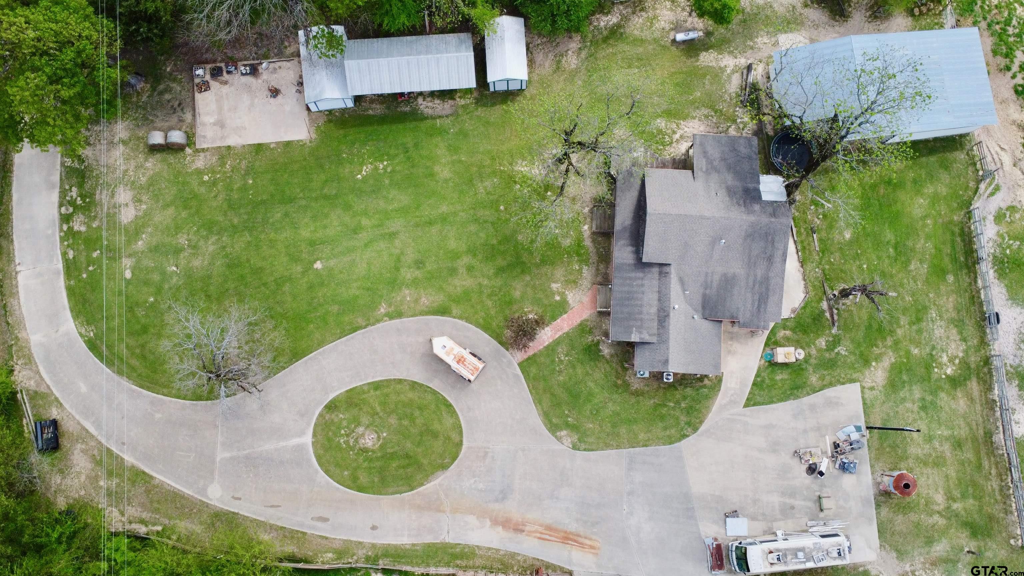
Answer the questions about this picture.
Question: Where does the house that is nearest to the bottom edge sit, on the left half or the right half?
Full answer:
It is on the right.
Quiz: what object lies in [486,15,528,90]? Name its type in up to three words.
shed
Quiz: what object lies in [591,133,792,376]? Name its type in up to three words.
house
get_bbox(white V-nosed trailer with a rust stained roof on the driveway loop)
[428,334,488,381]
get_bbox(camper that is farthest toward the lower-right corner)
[727,527,848,575]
